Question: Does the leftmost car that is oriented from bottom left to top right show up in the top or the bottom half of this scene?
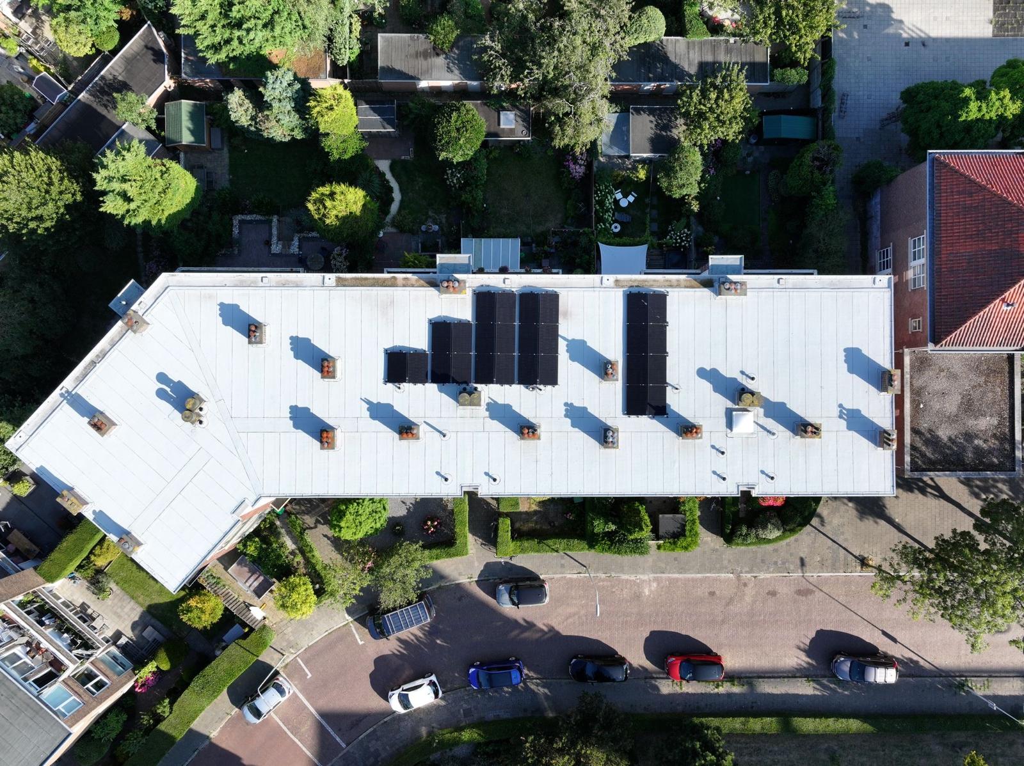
bottom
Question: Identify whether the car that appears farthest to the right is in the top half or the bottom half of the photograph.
bottom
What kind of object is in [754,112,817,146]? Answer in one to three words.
shed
